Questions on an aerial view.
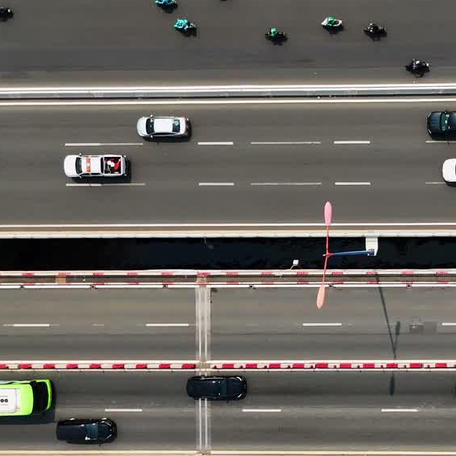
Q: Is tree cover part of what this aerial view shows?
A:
No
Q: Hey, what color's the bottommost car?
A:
black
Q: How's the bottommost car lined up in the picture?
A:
from left to right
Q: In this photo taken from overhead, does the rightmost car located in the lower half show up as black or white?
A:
black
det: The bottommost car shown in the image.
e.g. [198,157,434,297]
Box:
[56,415,117,443]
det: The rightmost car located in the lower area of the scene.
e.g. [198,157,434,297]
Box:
[187,373,245,401]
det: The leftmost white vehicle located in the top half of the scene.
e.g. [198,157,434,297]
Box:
[65,152,130,179]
